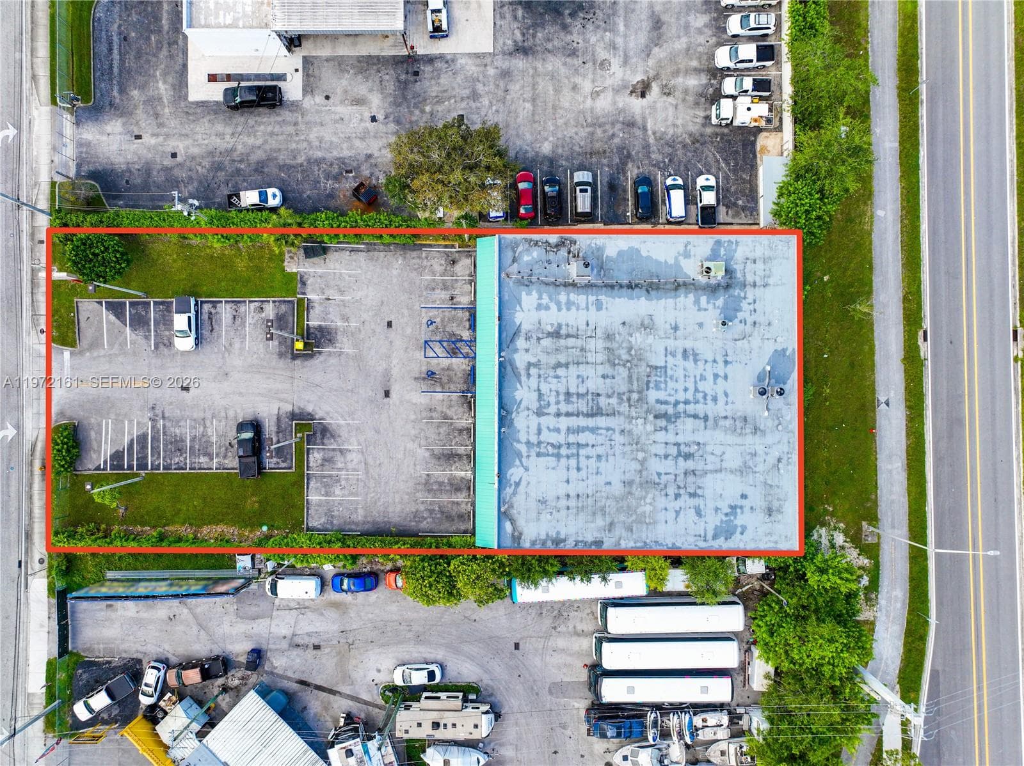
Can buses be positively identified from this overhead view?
Yes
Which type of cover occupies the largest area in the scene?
paved ground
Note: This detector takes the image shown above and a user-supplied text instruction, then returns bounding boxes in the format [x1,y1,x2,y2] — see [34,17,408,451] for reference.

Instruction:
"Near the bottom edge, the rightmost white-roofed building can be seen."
[197,674,344,766]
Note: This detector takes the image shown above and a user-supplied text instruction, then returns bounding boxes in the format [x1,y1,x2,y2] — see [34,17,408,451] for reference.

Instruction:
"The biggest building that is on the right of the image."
[476,231,800,552]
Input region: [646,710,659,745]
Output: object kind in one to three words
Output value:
boat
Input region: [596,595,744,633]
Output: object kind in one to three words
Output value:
bus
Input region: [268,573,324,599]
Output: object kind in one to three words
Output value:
vehicle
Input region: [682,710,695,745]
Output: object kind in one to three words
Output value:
boat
